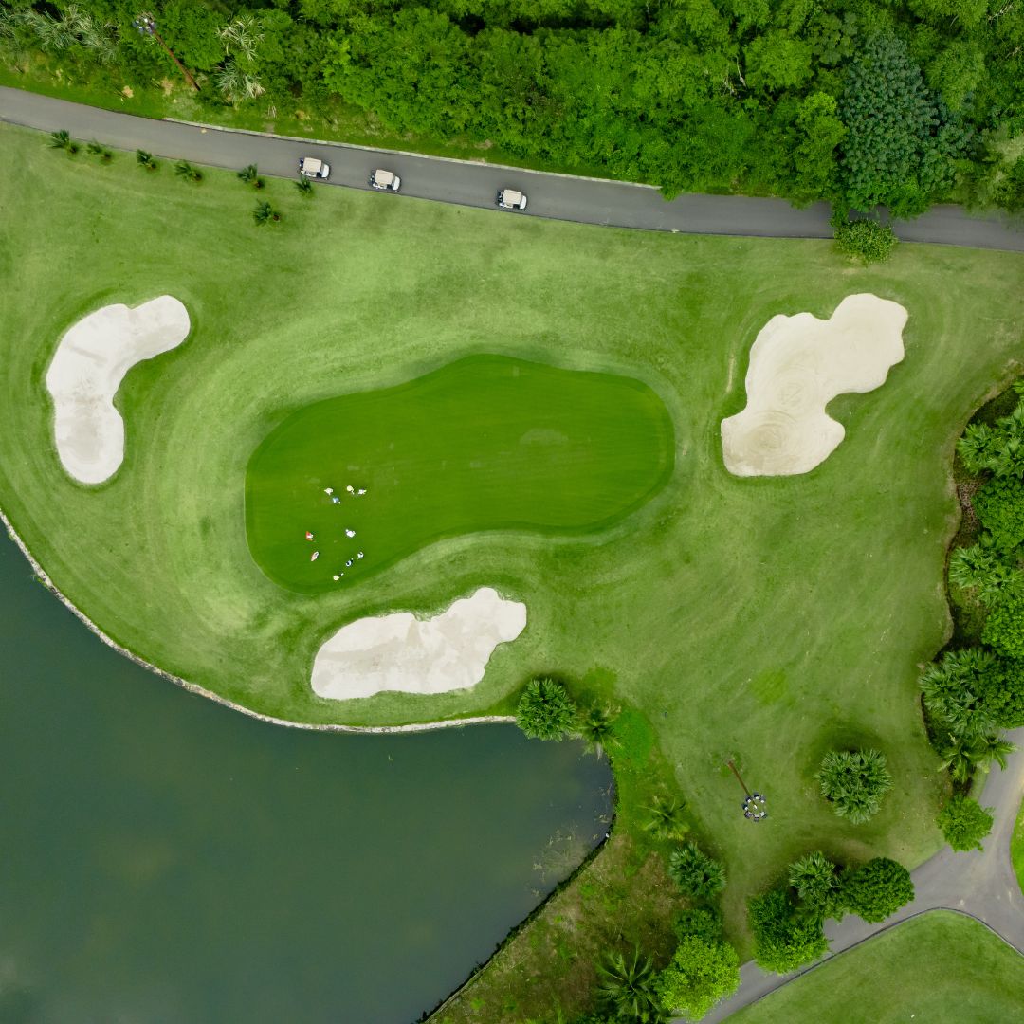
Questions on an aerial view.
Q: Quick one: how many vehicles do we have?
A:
3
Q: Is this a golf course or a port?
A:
golf course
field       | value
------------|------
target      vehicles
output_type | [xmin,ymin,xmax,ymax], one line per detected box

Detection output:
[371,171,402,197]
[497,190,529,215]
[301,156,333,182]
